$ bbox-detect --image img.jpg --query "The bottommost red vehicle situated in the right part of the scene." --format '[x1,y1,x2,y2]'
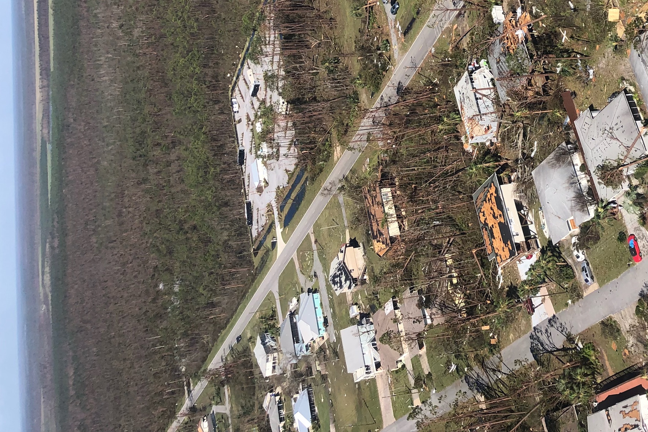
[520,292,535,323]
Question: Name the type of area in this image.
residential area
